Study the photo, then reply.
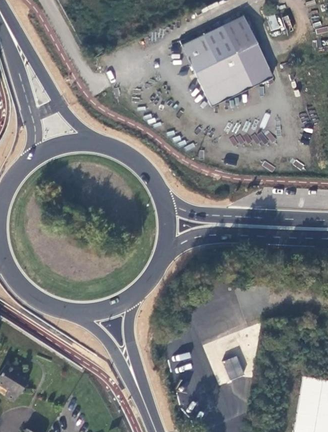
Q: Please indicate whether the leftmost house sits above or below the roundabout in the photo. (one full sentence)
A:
In the image, the leftmost house sits below the roundabout.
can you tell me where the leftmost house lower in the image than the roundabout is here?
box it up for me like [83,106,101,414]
[0,374,24,402]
